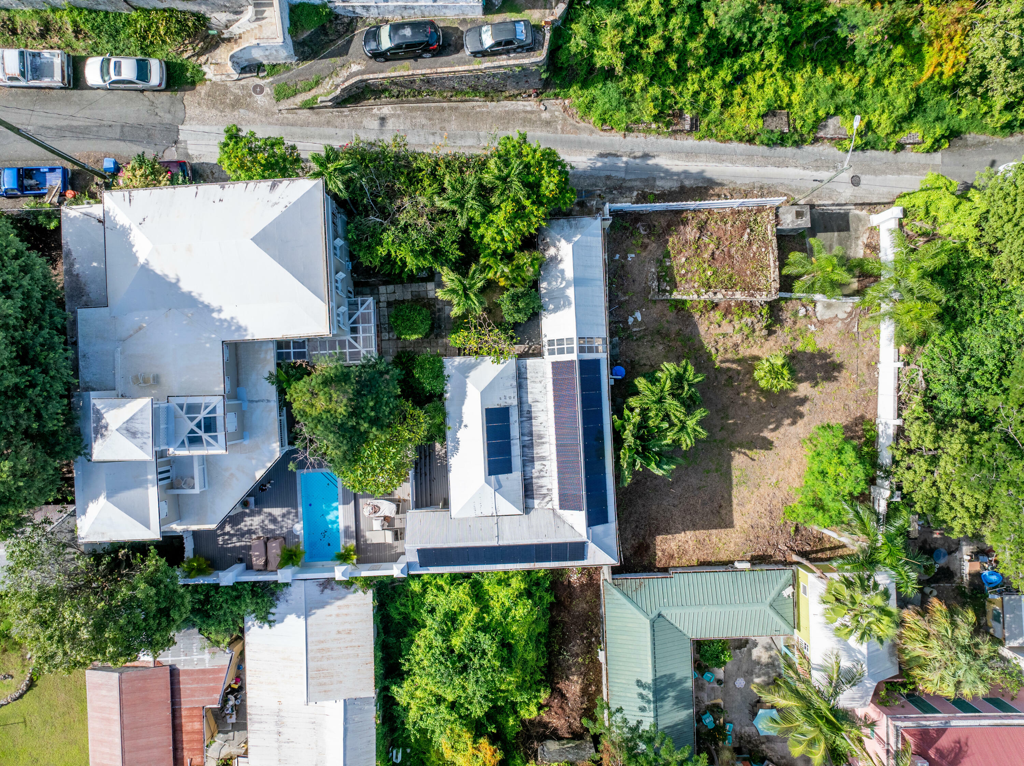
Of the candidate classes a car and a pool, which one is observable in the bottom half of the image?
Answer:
pool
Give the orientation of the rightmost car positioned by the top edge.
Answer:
from side to side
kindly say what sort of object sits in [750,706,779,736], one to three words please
umbrella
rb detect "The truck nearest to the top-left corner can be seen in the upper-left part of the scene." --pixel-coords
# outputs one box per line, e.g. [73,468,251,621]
[0,49,77,95]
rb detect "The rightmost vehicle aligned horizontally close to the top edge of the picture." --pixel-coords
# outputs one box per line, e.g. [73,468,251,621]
[462,15,538,58]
